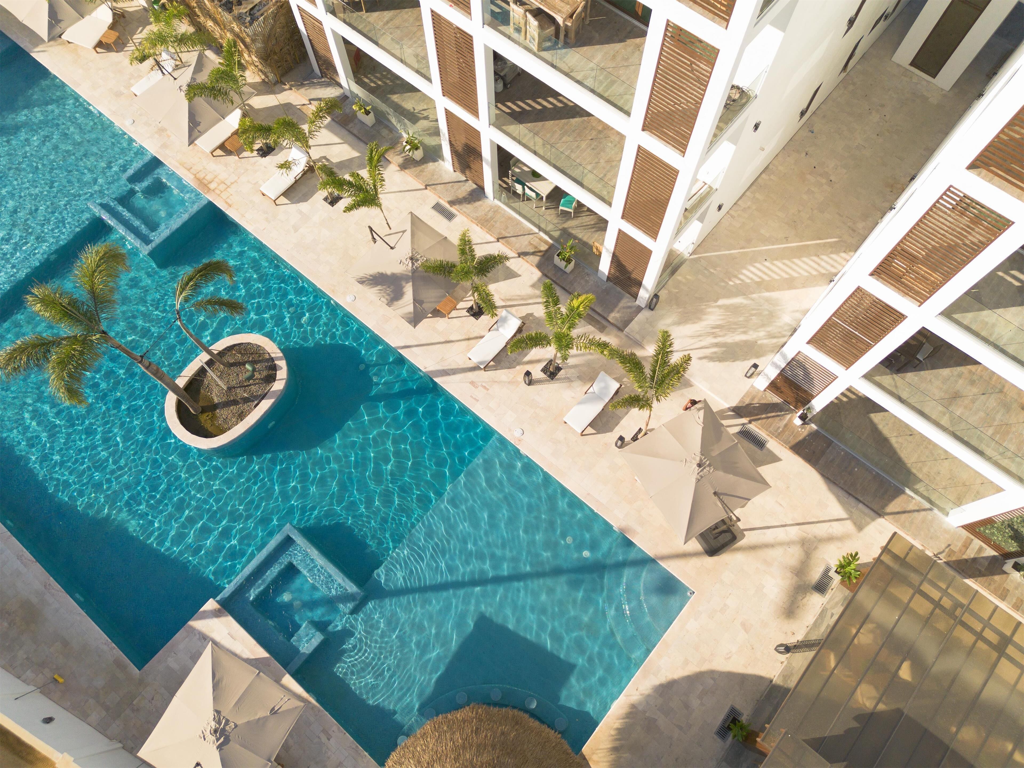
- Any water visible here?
Yes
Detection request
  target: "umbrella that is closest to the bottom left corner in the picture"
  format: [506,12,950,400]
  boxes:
[138,641,307,768]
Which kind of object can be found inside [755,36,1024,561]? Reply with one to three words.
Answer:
building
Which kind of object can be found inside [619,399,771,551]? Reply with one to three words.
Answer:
umbrella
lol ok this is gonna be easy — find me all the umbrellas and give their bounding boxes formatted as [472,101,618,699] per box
[131,52,257,147]
[346,212,478,329]
[0,0,104,43]
[619,399,771,551]
[138,641,307,768]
